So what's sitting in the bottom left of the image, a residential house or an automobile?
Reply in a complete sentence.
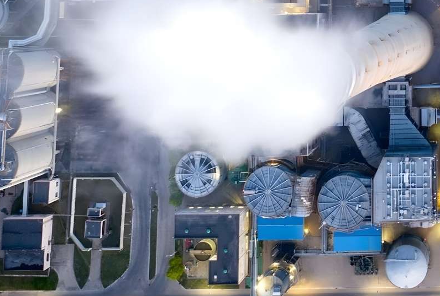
The one visible in the bottom left of the image is a residential house.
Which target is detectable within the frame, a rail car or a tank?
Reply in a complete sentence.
Looking from above, you can make out a tank.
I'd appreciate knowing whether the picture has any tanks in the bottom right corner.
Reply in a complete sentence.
Yes, a tank can be seen in the bottom right corner.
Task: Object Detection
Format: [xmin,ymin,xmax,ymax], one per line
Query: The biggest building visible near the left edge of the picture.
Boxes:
[1,213,56,270]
